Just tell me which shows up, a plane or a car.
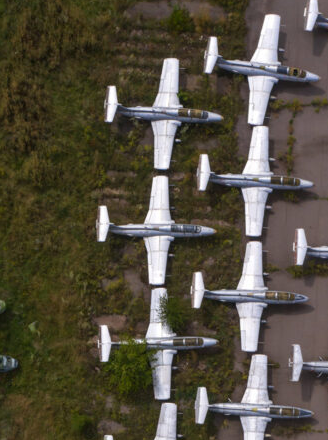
plane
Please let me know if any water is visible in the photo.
No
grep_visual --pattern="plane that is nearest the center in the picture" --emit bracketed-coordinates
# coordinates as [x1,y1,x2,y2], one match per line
[97,175,216,285]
